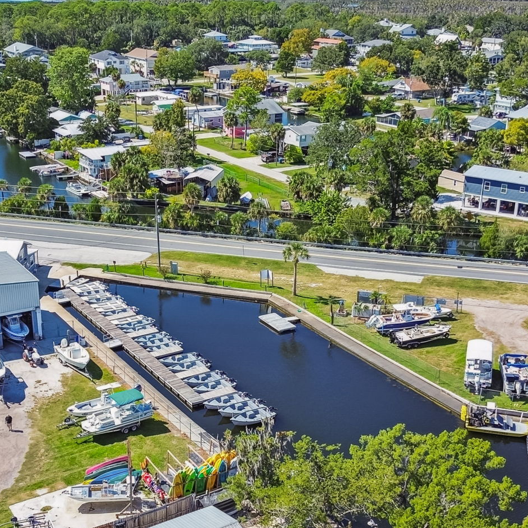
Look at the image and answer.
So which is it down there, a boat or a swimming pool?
boat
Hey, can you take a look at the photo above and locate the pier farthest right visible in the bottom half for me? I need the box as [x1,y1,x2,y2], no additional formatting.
[256,313,296,334]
